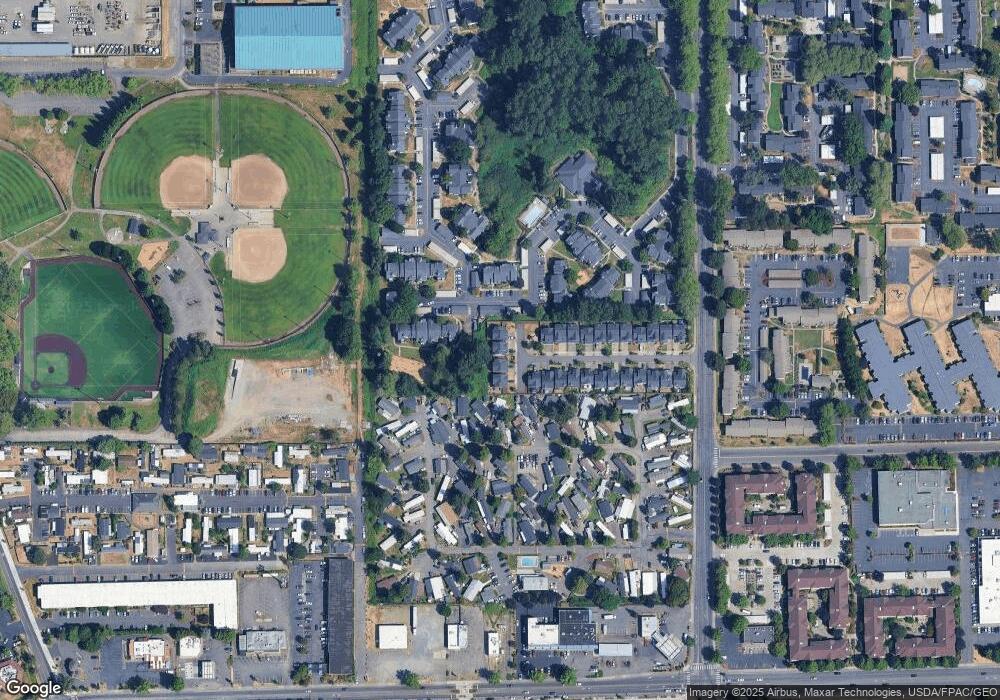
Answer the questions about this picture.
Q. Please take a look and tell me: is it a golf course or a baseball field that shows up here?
baseball field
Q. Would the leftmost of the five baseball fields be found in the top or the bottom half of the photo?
top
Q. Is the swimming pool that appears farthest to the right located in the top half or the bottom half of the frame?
top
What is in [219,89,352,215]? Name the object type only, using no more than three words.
baseball field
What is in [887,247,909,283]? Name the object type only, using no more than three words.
basketball court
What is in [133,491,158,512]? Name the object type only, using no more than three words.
building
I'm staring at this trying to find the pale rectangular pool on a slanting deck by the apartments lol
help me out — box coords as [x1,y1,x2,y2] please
[519,197,549,227]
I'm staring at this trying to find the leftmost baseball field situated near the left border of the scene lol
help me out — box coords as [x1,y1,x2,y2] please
[0,136,67,243]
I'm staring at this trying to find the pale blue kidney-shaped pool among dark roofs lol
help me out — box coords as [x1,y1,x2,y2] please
[963,73,986,96]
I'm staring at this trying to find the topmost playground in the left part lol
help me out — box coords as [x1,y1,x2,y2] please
[139,241,169,269]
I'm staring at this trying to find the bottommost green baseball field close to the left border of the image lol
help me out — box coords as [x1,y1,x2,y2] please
[18,256,162,403]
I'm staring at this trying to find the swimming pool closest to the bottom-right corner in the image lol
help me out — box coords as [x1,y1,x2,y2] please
[799,363,812,384]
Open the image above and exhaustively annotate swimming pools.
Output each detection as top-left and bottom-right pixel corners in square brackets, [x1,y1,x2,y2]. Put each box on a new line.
[517,556,538,567]
[799,363,812,384]
[963,73,986,96]
[519,197,549,227]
